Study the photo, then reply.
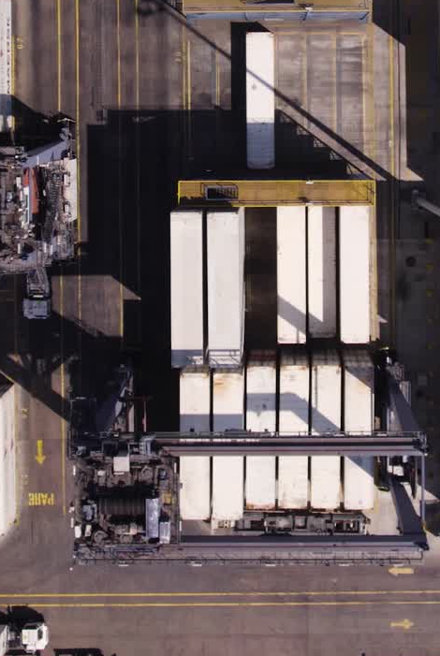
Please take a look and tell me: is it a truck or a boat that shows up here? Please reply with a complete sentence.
It is a truck that can be seen here.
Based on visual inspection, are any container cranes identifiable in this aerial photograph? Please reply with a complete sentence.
Yes, there's a container crane here.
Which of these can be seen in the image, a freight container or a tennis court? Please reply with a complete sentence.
There is a freight container in the scene.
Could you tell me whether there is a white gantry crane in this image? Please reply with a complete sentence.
No, the scene contains no white gantry crane.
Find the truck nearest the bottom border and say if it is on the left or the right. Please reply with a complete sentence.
It is on the left.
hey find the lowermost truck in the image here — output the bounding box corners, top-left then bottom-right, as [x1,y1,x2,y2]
[0,615,47,655]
